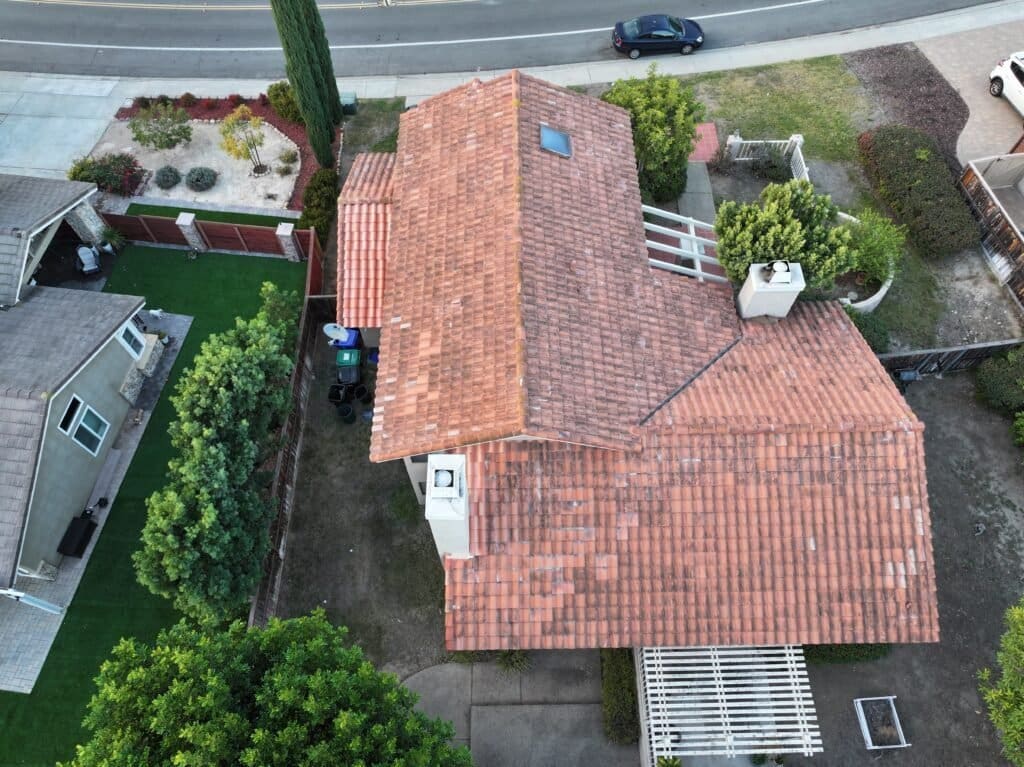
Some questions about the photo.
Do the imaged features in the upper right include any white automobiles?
Yes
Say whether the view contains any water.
No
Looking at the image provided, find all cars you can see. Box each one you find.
[613,10,705,58]
[988,51,1024,117]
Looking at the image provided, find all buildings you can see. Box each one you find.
[333,67,943,652]
[0,180,168,615]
